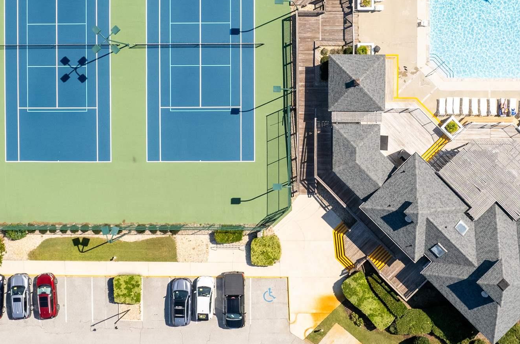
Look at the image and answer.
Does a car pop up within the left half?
Yes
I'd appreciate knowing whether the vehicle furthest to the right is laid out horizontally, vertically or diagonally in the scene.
vertically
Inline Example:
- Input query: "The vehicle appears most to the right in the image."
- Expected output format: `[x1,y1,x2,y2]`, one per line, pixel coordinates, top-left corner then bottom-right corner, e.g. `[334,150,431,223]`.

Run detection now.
[221,271,246,328]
